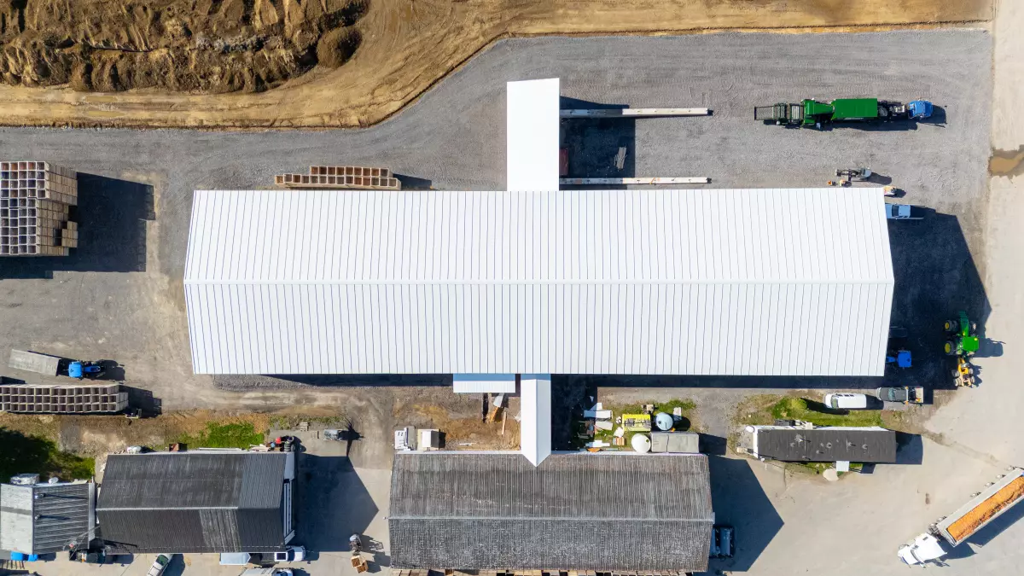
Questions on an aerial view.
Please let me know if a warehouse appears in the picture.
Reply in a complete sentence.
Yes, there's a warehouse down there.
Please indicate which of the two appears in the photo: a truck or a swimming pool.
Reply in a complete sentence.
I can see a truck in this picture.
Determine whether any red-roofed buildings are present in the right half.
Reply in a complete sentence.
No, there is no red-roofed building in the right half.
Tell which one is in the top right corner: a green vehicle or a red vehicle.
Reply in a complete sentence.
Looking in the top right corner, you will find a green vehicle.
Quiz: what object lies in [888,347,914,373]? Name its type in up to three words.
work vehicle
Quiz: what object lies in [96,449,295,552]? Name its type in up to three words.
building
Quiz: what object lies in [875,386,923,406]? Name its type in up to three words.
vehicle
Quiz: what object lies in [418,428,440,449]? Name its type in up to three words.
shed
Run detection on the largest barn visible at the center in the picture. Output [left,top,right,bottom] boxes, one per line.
[184,187,894,377]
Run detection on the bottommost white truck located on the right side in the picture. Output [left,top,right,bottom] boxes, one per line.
[893,519,951,565]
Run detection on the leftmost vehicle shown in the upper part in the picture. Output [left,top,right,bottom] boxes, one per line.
[753,93,836,120]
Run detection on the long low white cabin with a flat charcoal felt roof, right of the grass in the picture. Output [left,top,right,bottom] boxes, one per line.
[751,426,896,463]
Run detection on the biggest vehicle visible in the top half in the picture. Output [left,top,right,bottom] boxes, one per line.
[825,99,932,124]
